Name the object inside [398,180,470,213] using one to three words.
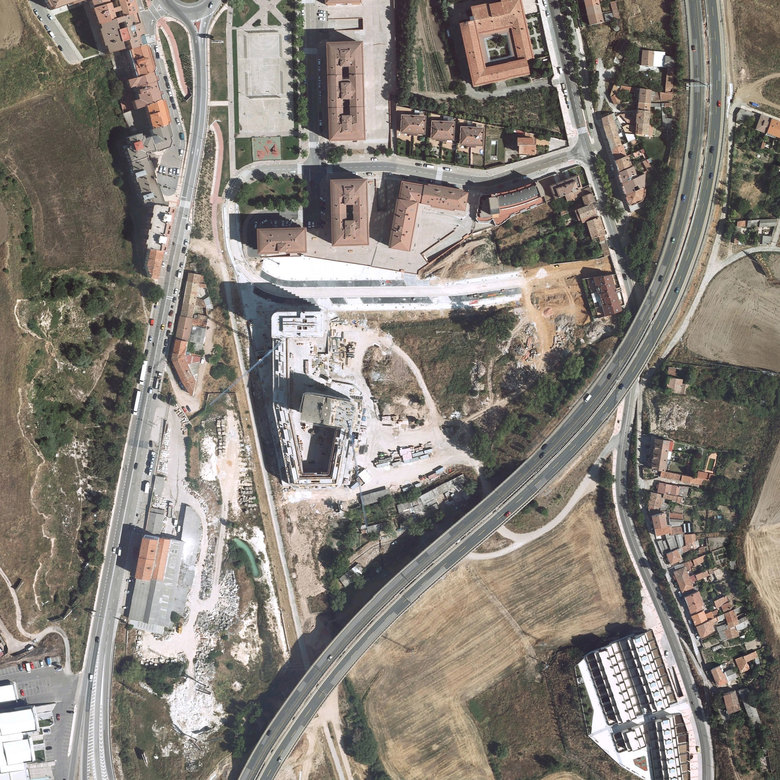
building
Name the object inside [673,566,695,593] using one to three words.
house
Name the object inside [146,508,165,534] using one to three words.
shed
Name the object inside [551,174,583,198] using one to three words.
house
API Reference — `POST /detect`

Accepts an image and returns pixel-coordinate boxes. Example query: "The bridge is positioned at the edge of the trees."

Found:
[238,0,726,780]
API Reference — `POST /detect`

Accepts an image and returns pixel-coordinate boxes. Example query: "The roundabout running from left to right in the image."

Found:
[165,0,225,21]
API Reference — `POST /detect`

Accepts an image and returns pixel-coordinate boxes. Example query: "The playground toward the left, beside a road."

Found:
[251,136,281,160]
